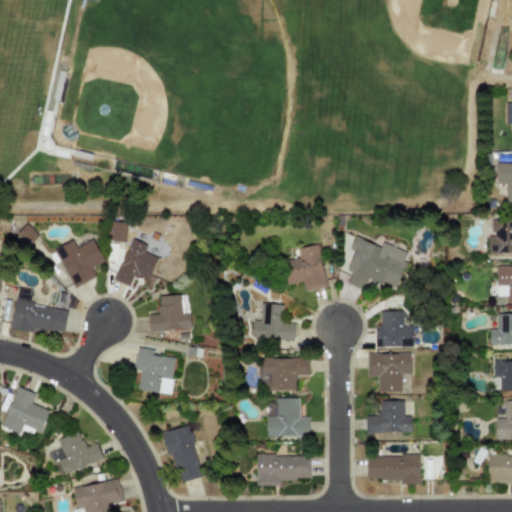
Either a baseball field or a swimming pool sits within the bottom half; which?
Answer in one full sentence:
There is a swimming pool within the bottom half.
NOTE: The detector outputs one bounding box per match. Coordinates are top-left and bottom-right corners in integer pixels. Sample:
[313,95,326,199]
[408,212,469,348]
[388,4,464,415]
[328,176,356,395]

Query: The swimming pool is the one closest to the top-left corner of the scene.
[48,225,71,240]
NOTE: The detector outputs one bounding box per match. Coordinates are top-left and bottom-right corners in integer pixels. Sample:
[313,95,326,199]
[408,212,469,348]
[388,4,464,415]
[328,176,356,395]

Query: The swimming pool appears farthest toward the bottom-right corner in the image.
[462,420,482,439]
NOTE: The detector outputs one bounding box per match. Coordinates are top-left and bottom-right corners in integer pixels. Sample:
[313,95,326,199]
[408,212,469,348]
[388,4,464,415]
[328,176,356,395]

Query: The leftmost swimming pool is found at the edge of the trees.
[19,270,40,288]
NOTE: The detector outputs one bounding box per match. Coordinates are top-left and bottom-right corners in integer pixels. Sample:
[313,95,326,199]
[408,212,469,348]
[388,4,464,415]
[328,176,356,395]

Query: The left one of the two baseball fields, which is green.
[54,0,290,187]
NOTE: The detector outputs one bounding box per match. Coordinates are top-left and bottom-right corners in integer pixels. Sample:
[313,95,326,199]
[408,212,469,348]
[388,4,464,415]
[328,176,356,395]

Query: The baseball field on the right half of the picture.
[274,0,490,212]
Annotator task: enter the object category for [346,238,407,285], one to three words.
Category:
house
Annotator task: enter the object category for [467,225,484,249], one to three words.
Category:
swimming pool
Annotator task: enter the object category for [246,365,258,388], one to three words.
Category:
swimming pool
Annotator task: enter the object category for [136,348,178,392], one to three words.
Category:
house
